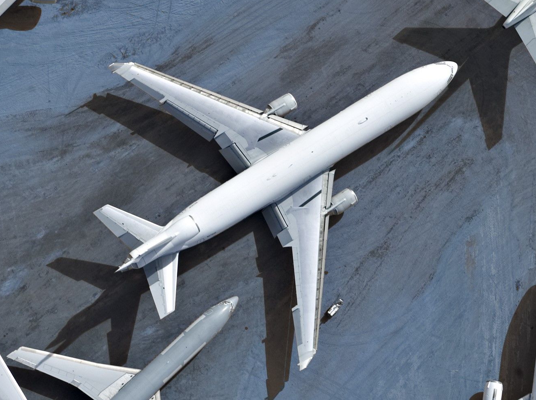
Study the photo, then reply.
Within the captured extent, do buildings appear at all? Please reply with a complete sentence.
No, there is no building in the image.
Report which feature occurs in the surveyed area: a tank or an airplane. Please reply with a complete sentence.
The one in the frame is an airplane.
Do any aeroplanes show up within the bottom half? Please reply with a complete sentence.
Yes, an aeroplane can be seen within the bottom half.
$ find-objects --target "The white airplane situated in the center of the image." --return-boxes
[94,62,457,373]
